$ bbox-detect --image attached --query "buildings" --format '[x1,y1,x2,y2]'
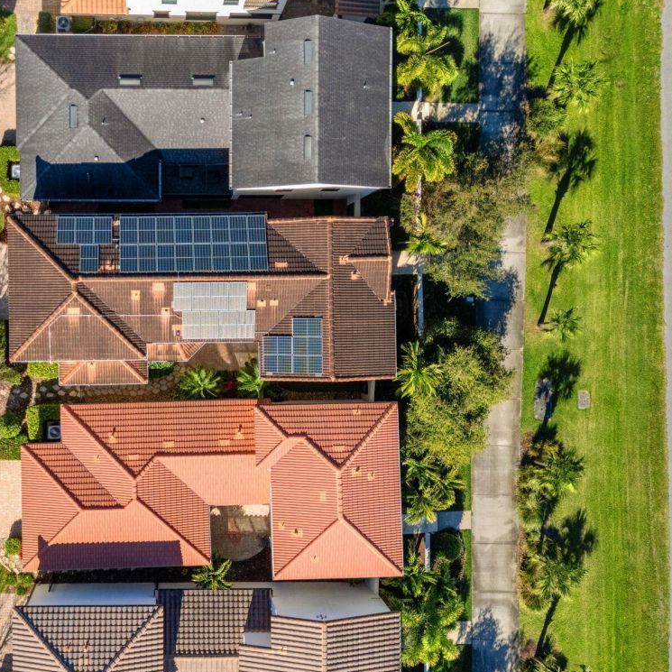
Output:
[5,212,398,387]
[10,581,403,672]
[19,399,405,581]
[15,15,392,202]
